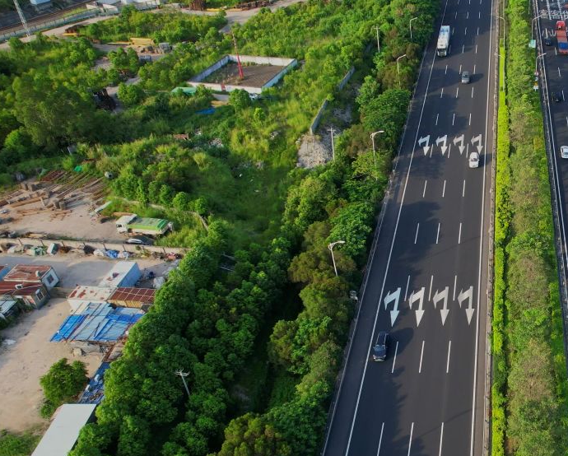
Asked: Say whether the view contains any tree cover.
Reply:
Yes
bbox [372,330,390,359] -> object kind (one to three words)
car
